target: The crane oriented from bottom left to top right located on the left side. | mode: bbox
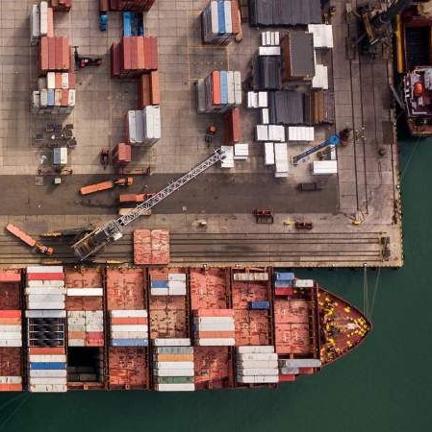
[43,145,230,266]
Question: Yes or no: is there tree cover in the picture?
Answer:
No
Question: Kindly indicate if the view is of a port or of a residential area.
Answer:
port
